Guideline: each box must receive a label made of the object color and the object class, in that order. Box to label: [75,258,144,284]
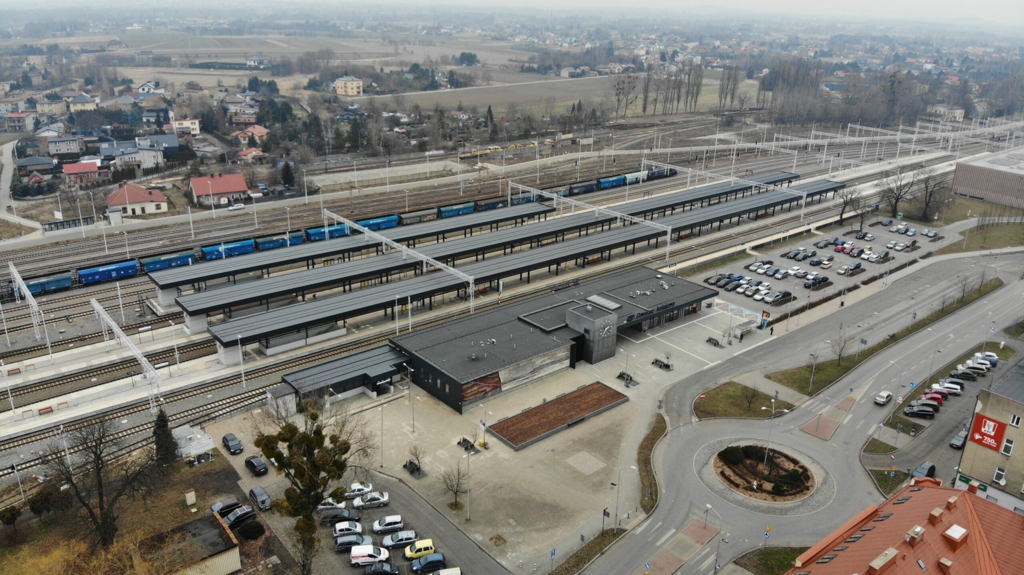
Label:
blue rail car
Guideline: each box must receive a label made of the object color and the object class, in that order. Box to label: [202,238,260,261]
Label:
blue rail car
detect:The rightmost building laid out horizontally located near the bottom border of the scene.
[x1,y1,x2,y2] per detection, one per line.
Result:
[787,473,1024,575]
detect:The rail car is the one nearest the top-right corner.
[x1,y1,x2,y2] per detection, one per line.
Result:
[646,168,674,180]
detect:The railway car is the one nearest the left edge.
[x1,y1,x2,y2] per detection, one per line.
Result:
[1,269,77,298]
